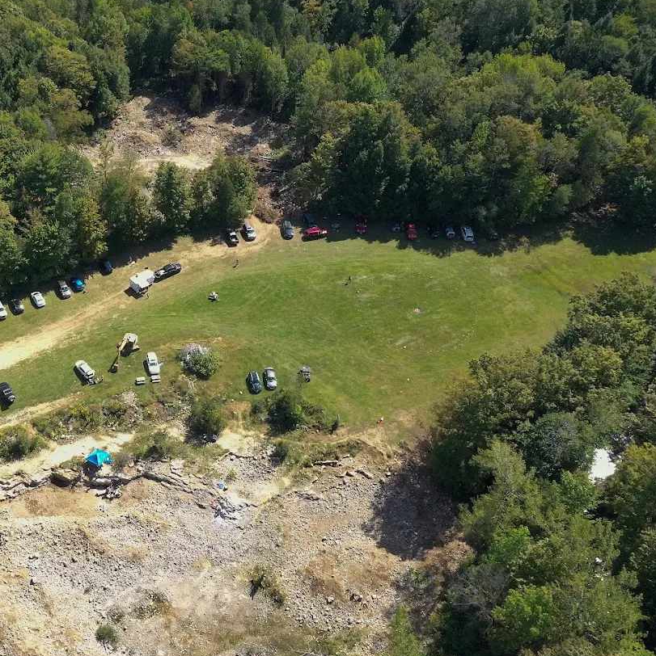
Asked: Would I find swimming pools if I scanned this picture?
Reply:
No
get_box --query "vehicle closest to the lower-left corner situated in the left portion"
[0,382,14,405]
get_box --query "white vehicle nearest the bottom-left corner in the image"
[74,360,96,382]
